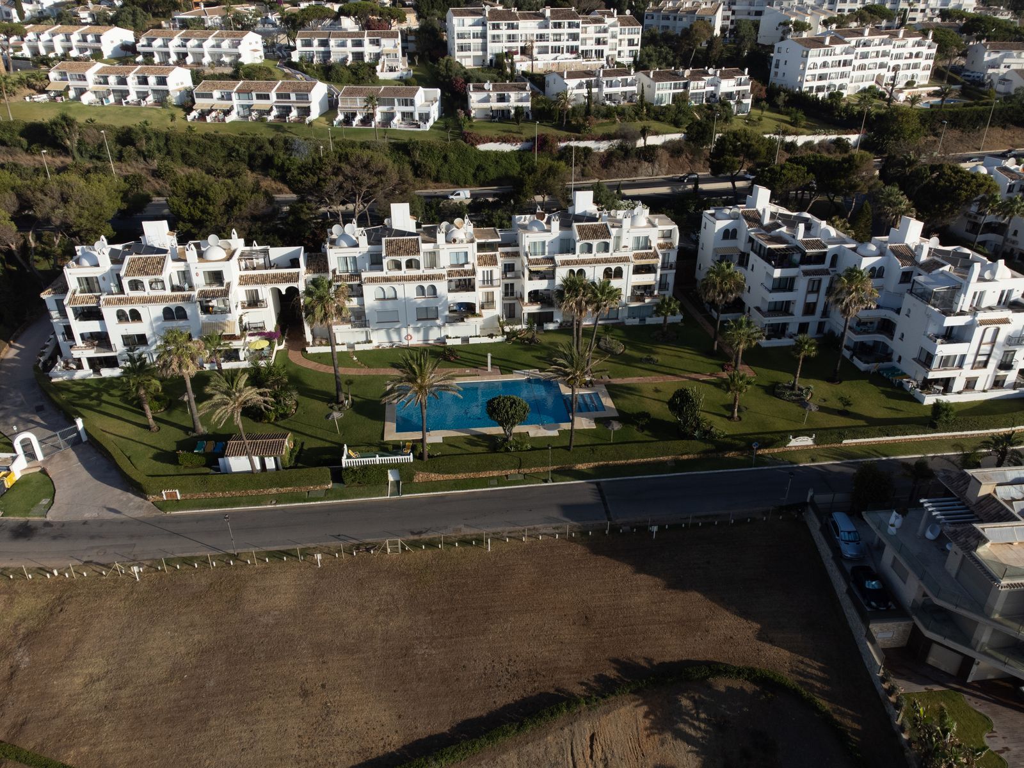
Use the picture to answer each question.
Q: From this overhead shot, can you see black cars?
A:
Yes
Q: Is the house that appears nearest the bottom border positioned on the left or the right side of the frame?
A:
right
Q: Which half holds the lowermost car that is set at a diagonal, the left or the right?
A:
right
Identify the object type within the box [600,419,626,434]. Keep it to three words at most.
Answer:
umbrella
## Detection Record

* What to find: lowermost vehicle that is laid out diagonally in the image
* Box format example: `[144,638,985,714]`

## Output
[851,559,900,609]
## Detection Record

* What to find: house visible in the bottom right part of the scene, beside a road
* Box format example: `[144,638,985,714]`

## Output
[862,461,1024,692]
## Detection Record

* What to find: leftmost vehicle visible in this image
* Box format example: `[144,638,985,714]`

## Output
[447,186,470,198]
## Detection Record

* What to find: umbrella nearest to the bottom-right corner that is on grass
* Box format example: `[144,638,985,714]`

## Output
[796,402,820,424]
